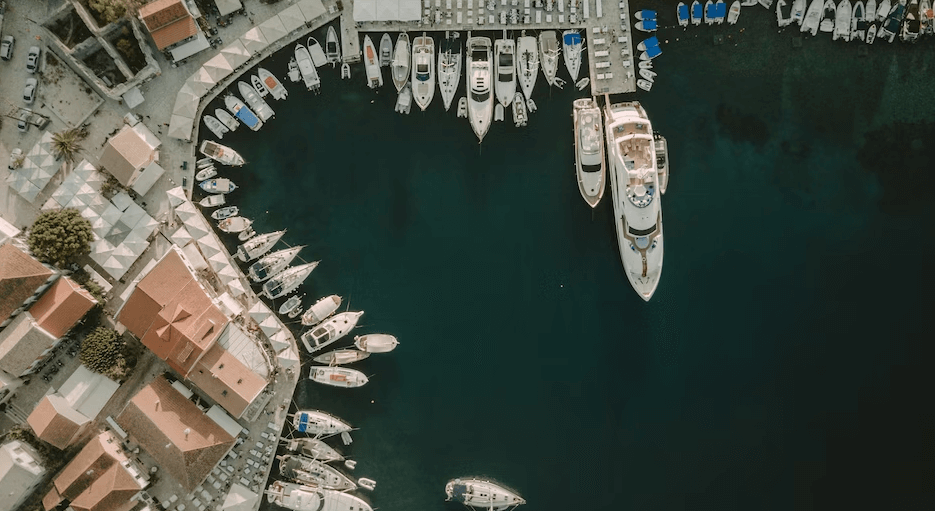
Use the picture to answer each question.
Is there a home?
Yes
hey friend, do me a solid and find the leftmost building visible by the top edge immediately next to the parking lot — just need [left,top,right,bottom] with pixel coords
[28,0,160,97]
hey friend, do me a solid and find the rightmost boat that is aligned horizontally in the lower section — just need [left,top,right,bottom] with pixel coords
[444,477,529,511]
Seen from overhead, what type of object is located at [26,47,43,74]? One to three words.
car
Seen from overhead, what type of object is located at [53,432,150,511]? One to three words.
house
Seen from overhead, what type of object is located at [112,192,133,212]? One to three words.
umbrella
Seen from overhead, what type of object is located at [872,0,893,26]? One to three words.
boat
